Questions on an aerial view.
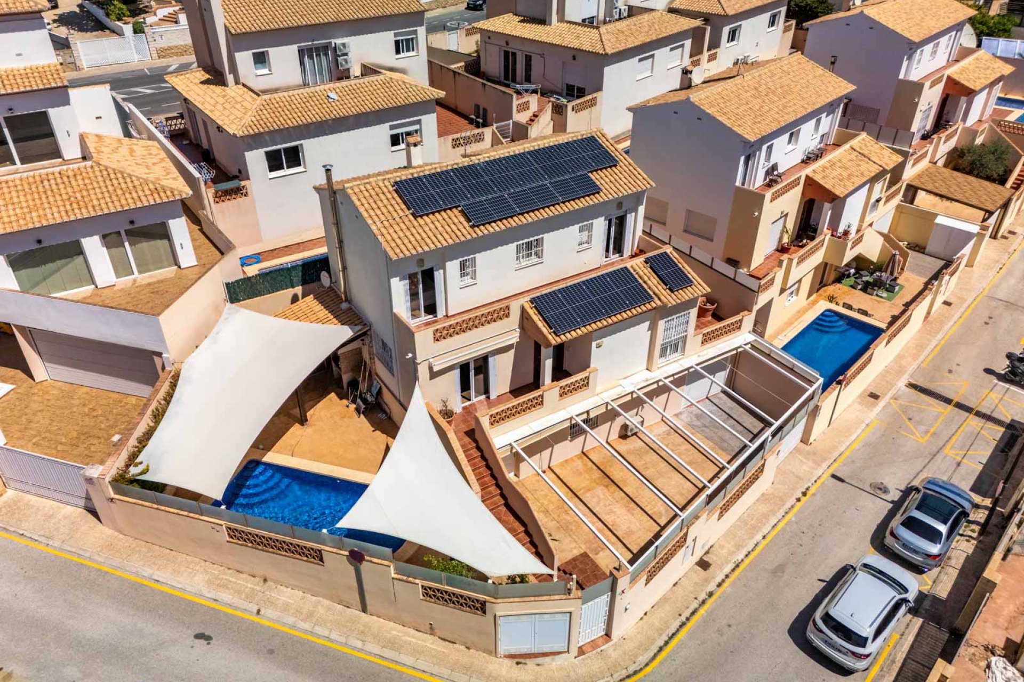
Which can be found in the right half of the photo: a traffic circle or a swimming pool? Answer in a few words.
swimming pool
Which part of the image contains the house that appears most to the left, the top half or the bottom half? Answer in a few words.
top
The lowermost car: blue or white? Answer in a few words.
white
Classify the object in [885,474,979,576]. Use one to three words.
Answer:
car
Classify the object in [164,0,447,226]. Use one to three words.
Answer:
house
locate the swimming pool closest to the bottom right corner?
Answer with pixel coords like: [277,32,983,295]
[775,306,882,382]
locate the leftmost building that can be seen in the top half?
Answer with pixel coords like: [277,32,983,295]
[0,0,246,392]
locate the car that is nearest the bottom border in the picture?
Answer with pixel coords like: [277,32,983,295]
[809,551,924,680]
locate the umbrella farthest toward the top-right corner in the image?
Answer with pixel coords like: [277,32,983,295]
[886,229,913,270]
